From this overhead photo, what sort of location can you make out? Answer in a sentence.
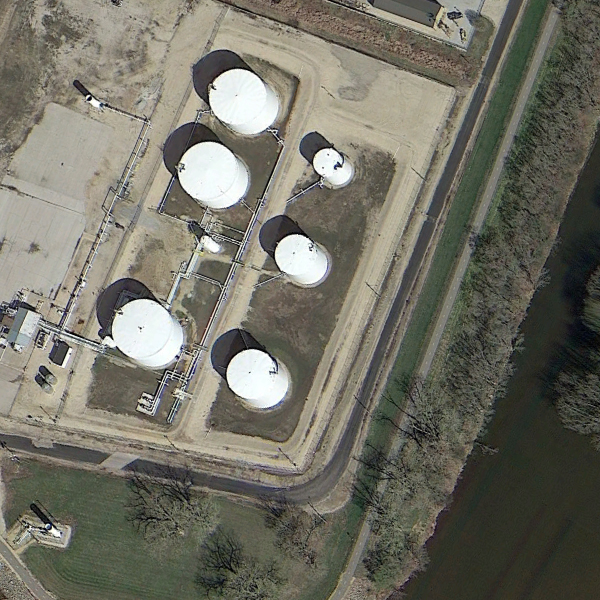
This looks like an industrial area.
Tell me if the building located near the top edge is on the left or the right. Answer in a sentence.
You can find the building located near the top edge on the right side of the picture.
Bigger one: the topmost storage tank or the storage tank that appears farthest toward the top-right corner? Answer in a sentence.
The larger object is the topmost storage tank, with the storage tank that appears farthest toward the top-right corner being the smaller of the pair.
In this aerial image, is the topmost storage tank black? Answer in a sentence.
No, the topmost storage tank is white.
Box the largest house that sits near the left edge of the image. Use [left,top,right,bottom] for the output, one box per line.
[6,308,43,348]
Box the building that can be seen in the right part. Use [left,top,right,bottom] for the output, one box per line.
[374,0,442,30]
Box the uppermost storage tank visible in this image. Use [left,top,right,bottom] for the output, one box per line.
[207,67,281,138]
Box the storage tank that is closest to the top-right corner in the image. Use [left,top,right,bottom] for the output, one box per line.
[312,148,357,191]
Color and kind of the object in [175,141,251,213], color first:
white storage tank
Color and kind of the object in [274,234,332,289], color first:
white storage tank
